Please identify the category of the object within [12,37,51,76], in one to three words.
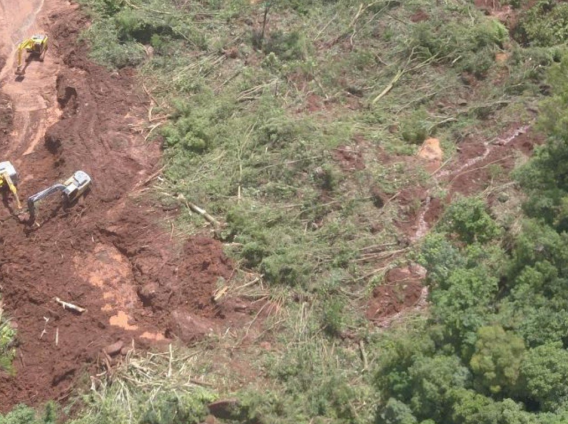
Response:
work vehicle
